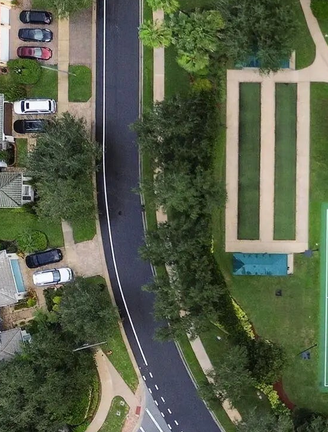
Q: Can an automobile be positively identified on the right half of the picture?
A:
No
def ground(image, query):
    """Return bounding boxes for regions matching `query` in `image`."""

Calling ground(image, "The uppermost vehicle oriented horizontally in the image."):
[20,9,54,25]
